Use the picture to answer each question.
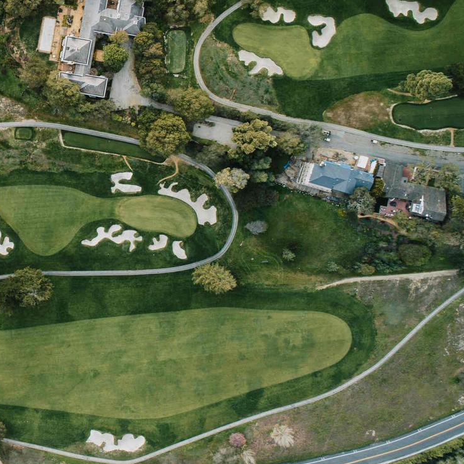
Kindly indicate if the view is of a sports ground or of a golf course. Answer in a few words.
golf course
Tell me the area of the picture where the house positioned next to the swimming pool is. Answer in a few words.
top left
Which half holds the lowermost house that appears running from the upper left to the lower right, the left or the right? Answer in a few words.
right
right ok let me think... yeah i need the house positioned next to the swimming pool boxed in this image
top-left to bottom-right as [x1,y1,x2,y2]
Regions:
[60,0,146,96]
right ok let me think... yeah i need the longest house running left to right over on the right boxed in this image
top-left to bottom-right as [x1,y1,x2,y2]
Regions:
[308,162,374,195]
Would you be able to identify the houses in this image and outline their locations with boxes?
[308,162,374,195]
[60,0,146,96]
[379,162,447,217]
